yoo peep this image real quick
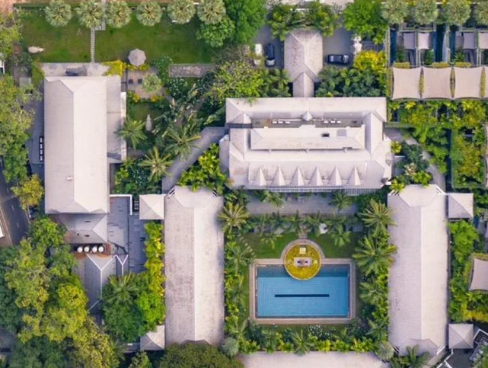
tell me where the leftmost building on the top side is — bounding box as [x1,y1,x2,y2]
[30,63,126,213]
